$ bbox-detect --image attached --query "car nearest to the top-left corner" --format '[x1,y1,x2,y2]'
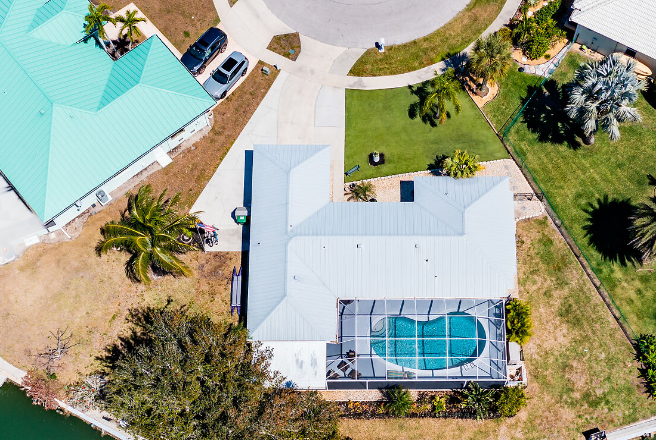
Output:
[181,27,229,77]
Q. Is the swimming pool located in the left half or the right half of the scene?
right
